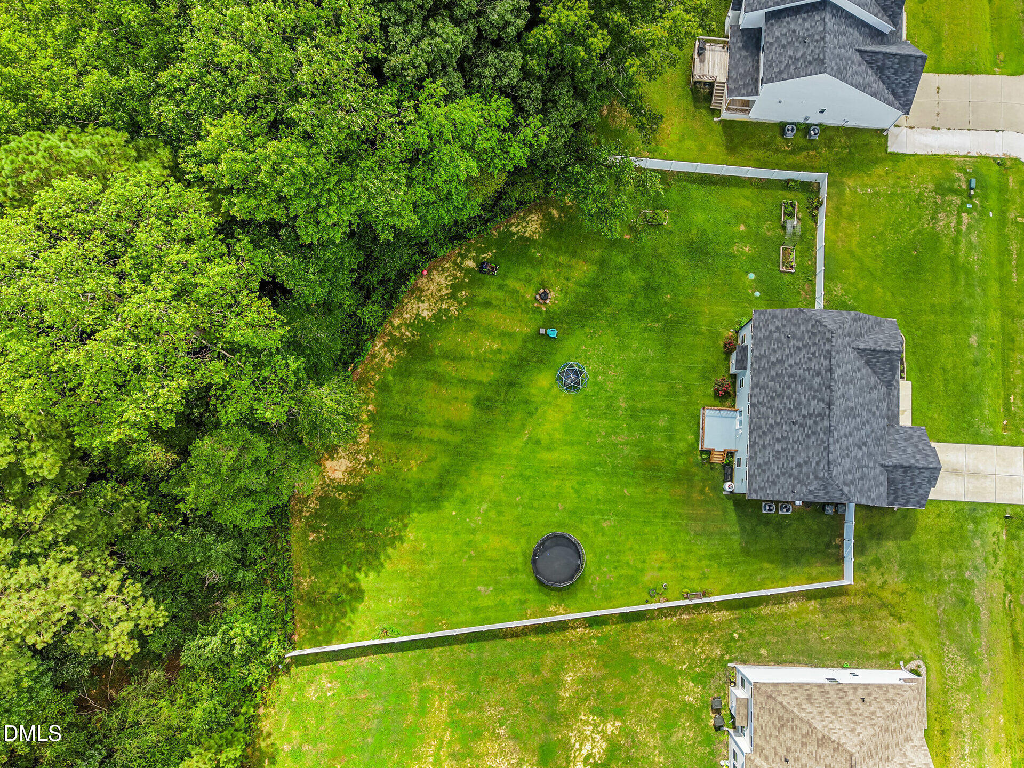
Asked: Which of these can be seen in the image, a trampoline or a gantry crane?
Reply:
trampoline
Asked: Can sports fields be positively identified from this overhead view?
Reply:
No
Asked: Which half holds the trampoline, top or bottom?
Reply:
bottom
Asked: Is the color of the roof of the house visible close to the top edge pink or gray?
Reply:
gray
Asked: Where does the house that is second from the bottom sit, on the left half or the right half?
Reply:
right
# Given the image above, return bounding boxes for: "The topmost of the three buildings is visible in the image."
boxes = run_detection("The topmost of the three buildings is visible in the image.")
[711,0,928,137]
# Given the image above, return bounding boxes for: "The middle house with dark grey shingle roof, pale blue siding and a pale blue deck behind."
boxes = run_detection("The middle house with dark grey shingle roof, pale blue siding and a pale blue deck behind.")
[729,304,943,509]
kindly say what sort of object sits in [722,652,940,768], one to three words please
house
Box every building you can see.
[711,0,928,137]
[729,304,943,509]
[722,652,940,768]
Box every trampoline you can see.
[531,531,586,589]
